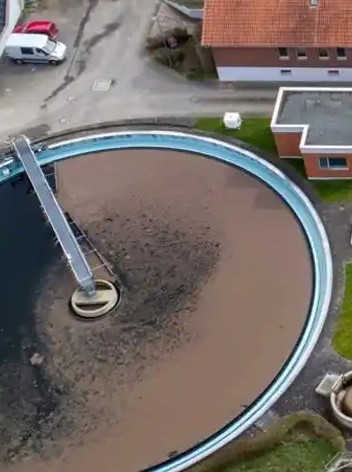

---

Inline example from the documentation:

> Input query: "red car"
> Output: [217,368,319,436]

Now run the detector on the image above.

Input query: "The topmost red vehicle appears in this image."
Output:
[13,19,62,39]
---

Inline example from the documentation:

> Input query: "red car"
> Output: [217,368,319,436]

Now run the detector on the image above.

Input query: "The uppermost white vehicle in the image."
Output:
[3,31,68,62]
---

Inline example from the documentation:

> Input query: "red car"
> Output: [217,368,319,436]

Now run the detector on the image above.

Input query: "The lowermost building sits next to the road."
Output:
[271,88,352,178]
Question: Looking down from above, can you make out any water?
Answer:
Yes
